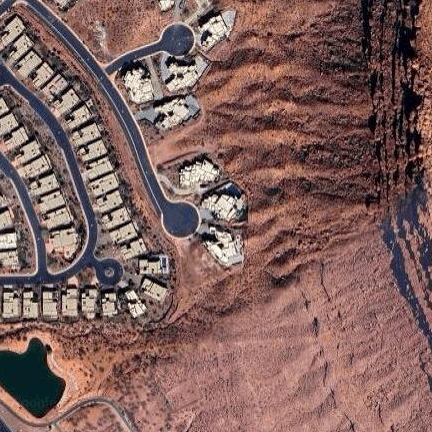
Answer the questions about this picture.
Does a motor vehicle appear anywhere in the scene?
No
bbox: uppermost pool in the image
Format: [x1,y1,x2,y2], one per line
[211,181,241,195]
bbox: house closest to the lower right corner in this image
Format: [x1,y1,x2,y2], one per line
[197,223,248,272]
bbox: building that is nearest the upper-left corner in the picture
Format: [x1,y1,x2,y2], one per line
[0,17,27,45]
